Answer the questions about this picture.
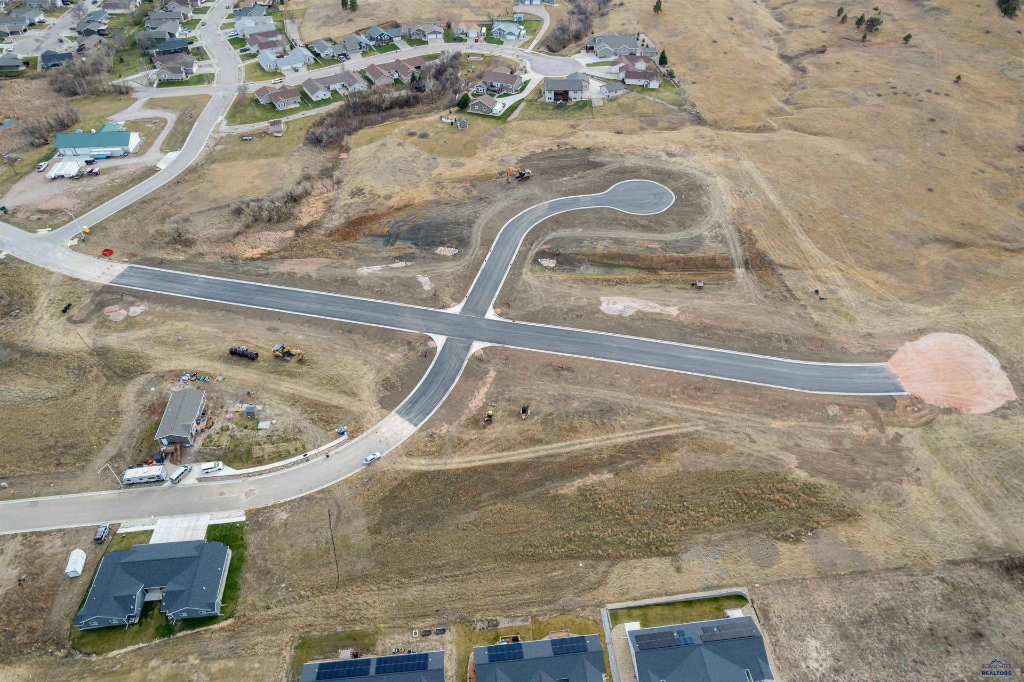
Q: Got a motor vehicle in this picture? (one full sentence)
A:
Yes, I can see a motor vehicle in this picture.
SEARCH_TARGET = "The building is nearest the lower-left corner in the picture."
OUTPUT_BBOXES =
[75,538,235,630]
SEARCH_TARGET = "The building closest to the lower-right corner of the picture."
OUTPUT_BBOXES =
[627,615,780,682]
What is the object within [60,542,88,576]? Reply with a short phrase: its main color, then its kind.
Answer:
white trailer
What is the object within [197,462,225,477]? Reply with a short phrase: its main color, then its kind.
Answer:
white vehicle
